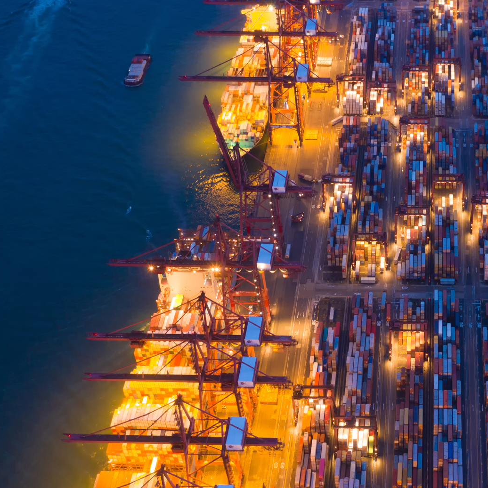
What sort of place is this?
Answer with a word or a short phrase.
port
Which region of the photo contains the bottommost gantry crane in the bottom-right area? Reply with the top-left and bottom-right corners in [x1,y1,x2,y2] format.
[330,419,380,458]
